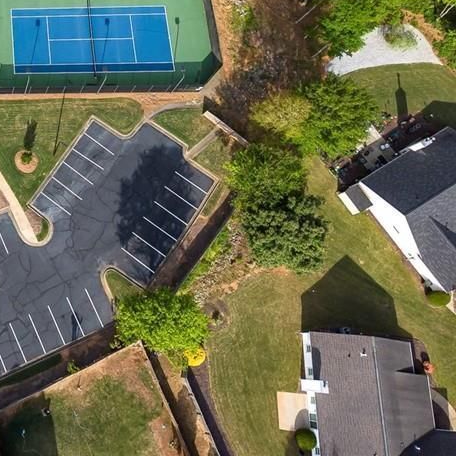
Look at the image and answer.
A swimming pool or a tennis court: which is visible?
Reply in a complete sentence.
The one in the frame is a tennis court.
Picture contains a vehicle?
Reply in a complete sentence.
No, there's no vehicle here.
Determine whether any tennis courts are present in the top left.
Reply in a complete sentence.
Yes, a tennis court can be seen in the top left.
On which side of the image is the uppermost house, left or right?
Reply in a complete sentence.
The uppermost house is on the right side of the image.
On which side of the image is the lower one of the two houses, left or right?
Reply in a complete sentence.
The lower one of the two houses appears in the right half of the scene.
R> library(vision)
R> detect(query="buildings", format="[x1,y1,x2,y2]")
[296,333,456,456]
[338,128,456,297]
